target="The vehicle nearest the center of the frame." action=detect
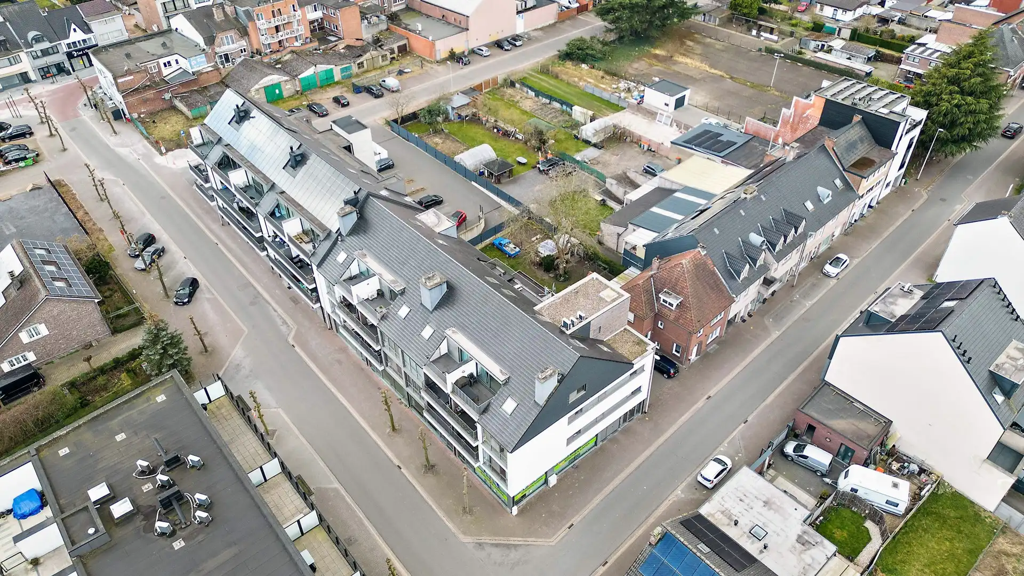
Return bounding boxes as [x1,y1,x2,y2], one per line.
[490,237,524,258]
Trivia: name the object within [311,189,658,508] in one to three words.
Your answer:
building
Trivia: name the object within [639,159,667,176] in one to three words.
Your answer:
car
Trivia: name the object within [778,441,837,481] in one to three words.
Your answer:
van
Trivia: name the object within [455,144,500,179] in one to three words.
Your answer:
greenhouse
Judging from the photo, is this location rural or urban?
urban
